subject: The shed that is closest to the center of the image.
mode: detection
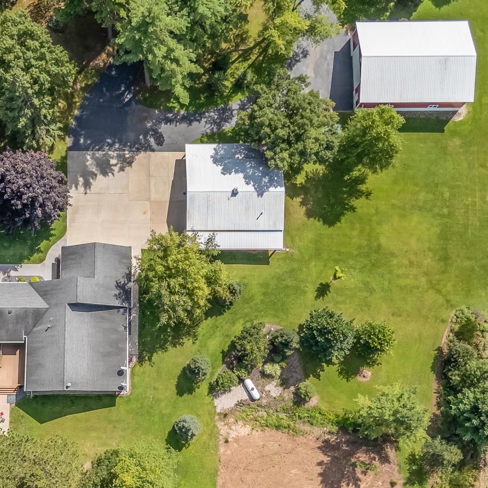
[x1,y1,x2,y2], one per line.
[184,145,284,253]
